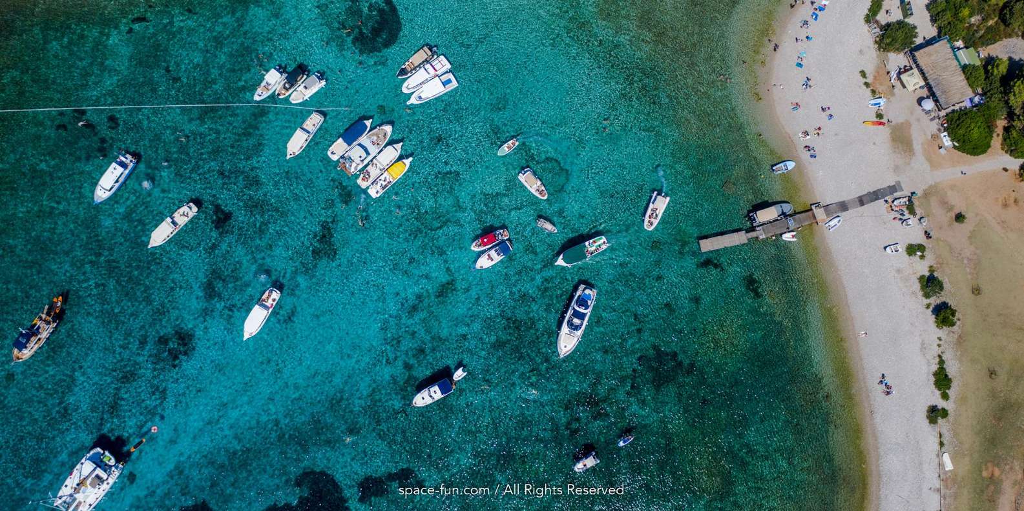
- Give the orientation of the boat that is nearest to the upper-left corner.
at an angle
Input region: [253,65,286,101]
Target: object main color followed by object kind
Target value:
white boat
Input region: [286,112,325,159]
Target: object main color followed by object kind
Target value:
white boat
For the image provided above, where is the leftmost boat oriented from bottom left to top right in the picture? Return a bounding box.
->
[7,305,58,366]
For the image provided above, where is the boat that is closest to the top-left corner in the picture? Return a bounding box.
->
[92,151,138,204]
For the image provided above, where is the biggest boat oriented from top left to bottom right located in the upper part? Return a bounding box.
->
[521,166,547,198]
